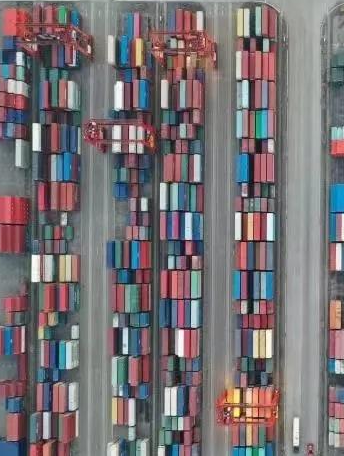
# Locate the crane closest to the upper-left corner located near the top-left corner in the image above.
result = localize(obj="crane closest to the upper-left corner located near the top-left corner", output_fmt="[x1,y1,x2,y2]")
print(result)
[16,21,95,62]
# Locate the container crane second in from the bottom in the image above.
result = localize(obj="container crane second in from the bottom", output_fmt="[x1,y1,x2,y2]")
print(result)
[85,119,158,155]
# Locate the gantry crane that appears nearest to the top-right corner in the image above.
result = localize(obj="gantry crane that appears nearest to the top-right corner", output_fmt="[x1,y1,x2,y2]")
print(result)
[148,30,219,71]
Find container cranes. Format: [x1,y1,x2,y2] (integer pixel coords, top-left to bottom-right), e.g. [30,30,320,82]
[16,21,95,62]
[85,119,158,155]
[148,30,219,71]
[215,389,280,426]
